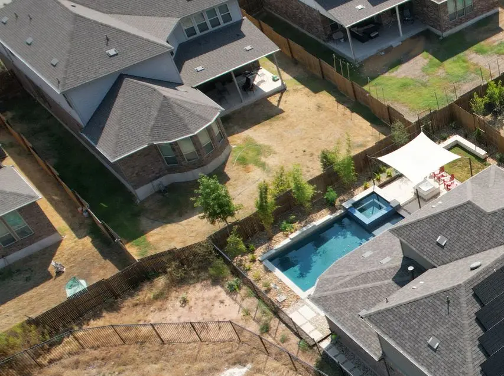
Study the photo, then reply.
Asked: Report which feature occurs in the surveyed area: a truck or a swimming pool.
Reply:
swimming pool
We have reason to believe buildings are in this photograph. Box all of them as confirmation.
[0,0,287,201]
[0,165,63,272]
[306,181,504,376]
[248,0,495,65]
